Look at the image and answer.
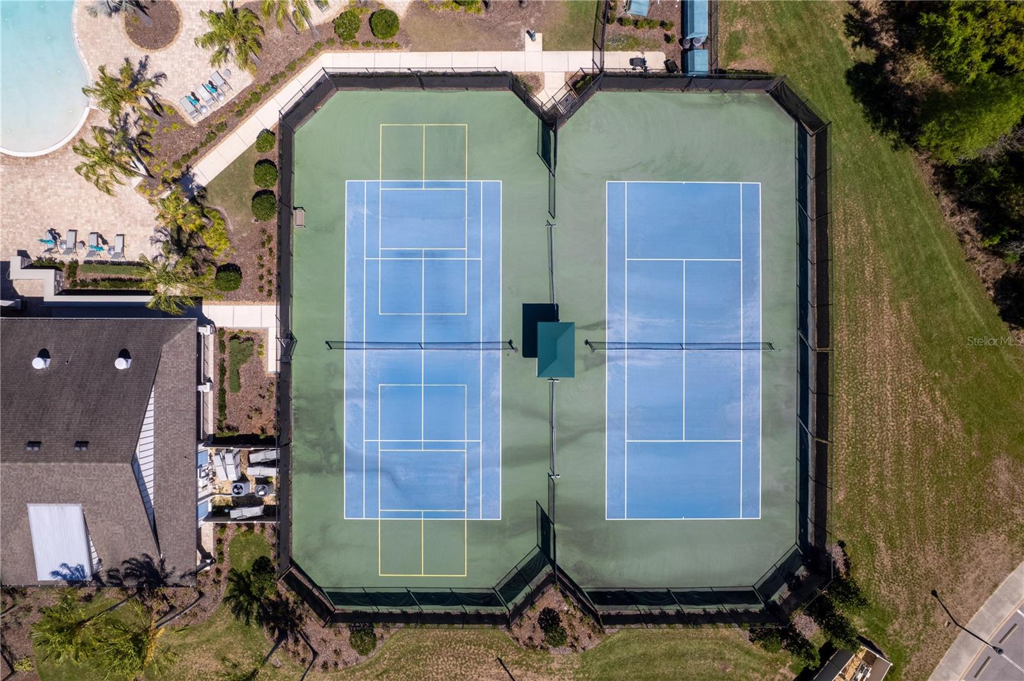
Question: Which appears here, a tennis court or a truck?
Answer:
tennis court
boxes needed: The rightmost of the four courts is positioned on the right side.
[555,91,811,609]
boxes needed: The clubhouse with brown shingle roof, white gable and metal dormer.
[0,316,212,587]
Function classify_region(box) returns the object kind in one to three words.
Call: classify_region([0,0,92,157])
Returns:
swimming pool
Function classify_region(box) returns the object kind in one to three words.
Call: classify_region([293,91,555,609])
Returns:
tennis court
